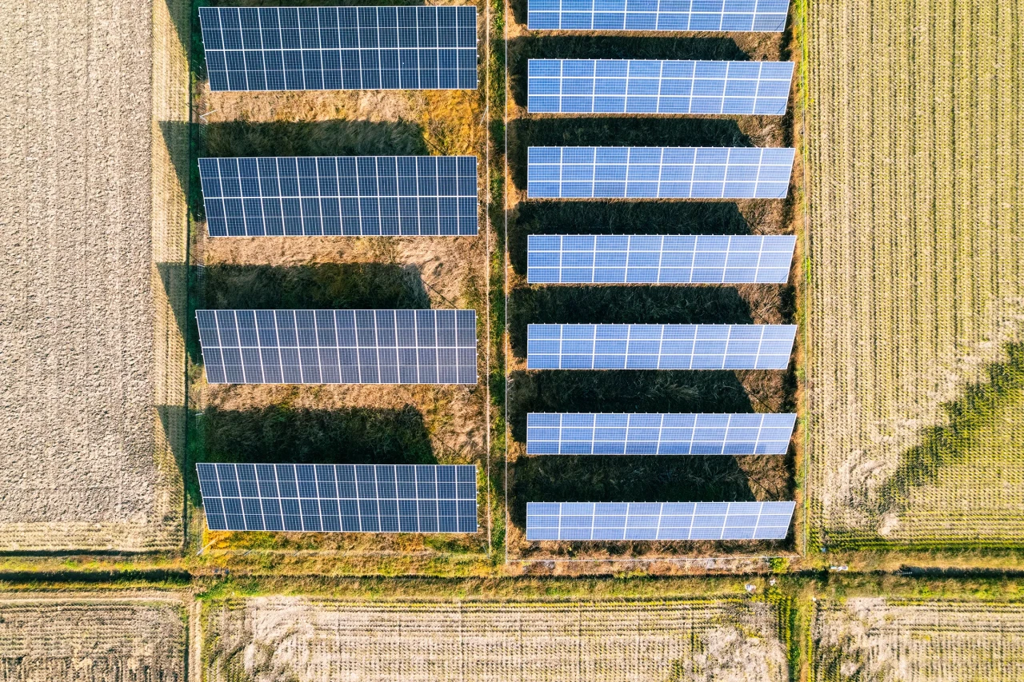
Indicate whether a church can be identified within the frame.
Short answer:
No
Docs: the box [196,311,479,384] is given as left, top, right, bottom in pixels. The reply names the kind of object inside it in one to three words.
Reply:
solar array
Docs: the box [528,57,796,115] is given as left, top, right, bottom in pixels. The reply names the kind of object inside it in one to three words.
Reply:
solar array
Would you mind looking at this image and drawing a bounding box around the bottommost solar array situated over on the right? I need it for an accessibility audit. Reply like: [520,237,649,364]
[527,497,795,540]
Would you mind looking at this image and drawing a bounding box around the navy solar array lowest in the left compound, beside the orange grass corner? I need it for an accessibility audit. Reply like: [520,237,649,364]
[198,462,479,532]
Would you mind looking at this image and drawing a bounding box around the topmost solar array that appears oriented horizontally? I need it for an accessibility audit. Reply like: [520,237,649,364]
[527,0,791,32]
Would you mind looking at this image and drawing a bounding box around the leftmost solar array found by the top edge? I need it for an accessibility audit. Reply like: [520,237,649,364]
[198,6,481,91]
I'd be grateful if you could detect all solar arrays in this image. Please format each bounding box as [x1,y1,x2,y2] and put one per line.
[528,145,796,198]
[196,311,479,384]
[528,57,796,115]
[198,462,479,532]
[528,234,796,284]
[528,411,796,455]
[198,6,481,91]
[527,497,795,540]
[528,323,796,369]
[527,0,791,32]
[198,157,480,236]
